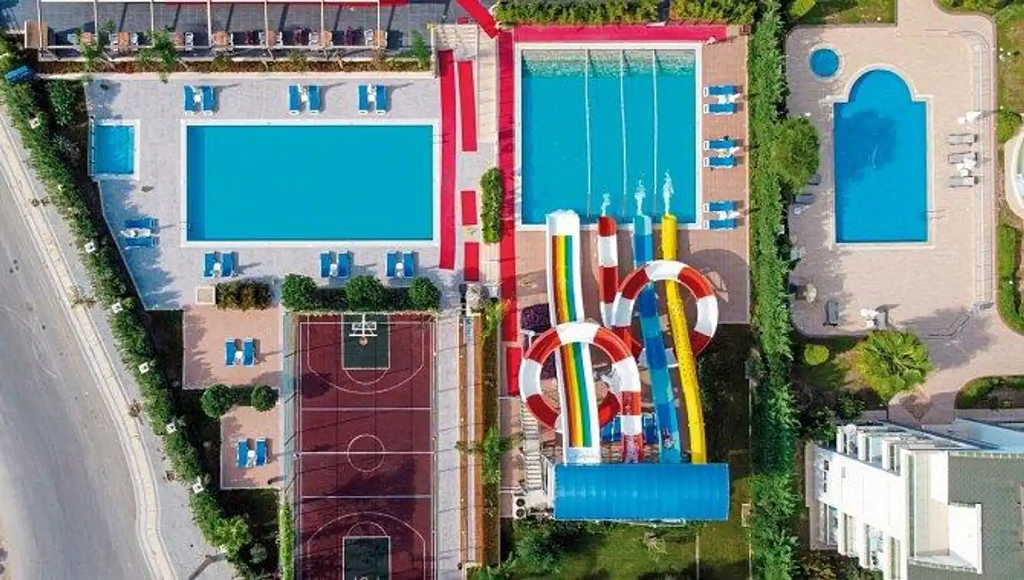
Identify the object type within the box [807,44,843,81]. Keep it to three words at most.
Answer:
swimming pool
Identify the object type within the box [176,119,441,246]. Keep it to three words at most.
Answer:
swimming pool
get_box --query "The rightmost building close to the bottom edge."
[815,417,1024,580]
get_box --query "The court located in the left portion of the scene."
[294,314,436,580]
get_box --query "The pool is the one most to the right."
[1003,124,1024,219]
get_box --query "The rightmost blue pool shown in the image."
[829,63,939,249]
